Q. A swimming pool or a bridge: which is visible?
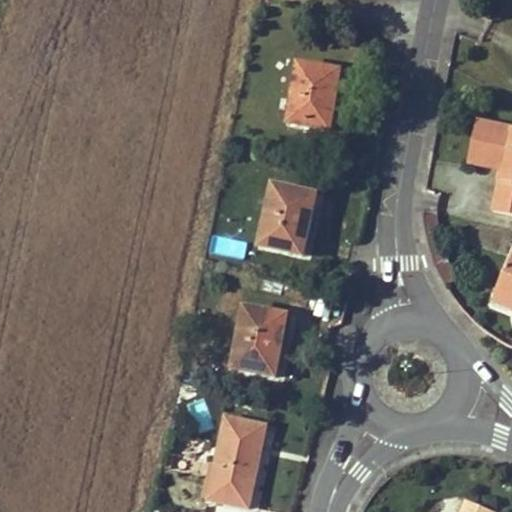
swimming pool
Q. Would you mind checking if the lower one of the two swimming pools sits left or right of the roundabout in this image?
left of it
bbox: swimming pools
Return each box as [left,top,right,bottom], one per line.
[186,397,215,434]
[208,236,248,262]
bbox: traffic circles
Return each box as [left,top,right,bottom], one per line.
[354,322,466,433]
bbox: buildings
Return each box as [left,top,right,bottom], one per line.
[227,301,288,382]
[466,117,512,216]
[254,179,318,263]
[260,281,284,296]
[284,58,341,134]
[434,494,496,512]
[488,246,512,331]
[204,412,268,512]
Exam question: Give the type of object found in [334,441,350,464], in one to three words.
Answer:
car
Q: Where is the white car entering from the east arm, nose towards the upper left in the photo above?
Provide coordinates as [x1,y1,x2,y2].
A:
[474,360,492,382]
